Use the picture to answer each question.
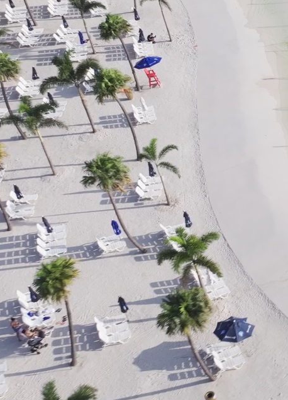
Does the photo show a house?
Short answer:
No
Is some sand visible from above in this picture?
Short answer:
Yes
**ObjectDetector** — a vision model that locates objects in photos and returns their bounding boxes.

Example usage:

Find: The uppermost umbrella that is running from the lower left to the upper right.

[136,53,161,71]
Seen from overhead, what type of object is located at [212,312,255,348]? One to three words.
umbrella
